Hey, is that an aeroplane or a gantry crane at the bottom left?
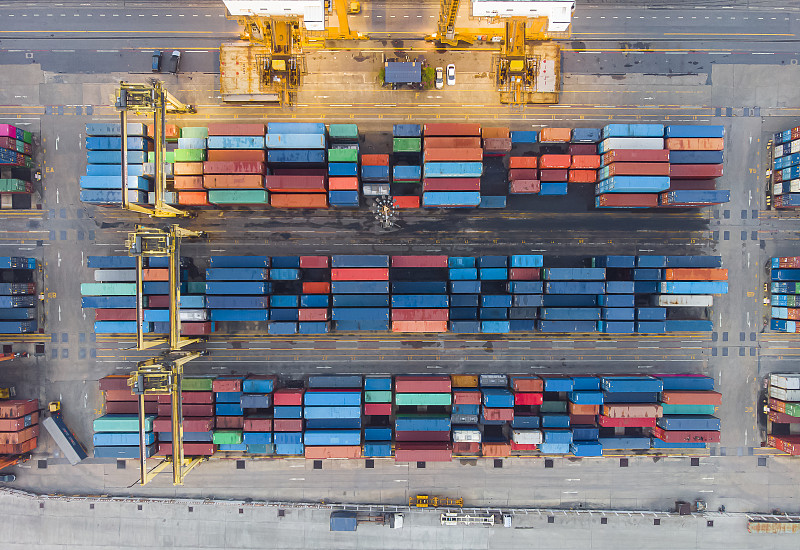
gantry crane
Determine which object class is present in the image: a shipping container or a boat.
shipping container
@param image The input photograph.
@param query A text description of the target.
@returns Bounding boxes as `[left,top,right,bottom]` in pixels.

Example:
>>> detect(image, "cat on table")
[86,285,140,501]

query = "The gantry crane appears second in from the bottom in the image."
[124,220,212,353]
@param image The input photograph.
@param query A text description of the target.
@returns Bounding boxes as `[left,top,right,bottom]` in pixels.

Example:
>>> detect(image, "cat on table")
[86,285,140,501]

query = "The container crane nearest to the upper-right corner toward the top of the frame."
[424,0,576,110]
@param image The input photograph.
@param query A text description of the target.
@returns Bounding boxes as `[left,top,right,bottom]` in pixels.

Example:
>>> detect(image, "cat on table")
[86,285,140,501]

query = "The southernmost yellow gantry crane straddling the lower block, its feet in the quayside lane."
[126,350,213,492]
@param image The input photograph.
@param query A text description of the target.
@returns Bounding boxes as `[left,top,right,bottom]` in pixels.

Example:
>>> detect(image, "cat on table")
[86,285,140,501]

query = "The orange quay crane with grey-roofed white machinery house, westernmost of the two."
[220,0,366,110]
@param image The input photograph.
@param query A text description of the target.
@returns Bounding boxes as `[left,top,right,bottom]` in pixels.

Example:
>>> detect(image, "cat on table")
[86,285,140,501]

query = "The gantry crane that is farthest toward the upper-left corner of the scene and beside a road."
[111,74,200,213]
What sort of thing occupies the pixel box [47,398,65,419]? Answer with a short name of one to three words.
vehicle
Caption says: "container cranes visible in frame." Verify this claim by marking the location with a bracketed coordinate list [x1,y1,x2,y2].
[111,74,200,213]
[220,0,366,110]
[124,220,212,353]
[424,0,576,110]
[126,350,213,492]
